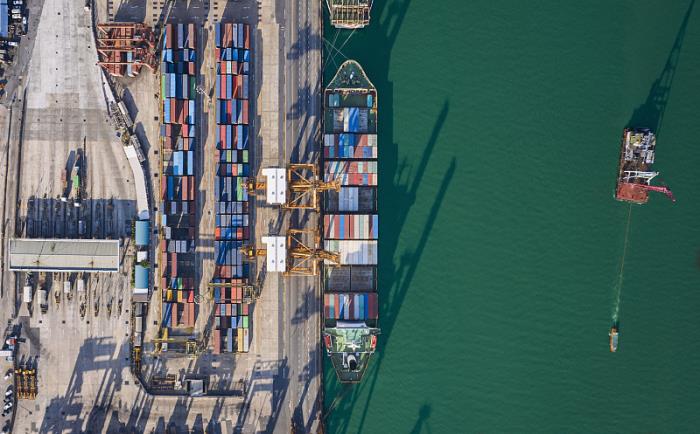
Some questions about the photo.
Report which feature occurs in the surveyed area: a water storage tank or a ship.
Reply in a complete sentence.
It is a ship that can be seen here.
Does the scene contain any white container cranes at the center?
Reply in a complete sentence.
Yes, there is a white container crane at the center.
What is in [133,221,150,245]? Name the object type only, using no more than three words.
shed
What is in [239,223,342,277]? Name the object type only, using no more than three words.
container crane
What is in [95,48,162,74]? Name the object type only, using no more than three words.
container crane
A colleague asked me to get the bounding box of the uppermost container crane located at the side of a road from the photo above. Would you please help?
[95,23,162,51]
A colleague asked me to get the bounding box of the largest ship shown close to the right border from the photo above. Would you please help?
[615,128,673,204]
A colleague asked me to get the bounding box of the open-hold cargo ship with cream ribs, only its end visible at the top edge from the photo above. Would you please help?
[326,0,373,30]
